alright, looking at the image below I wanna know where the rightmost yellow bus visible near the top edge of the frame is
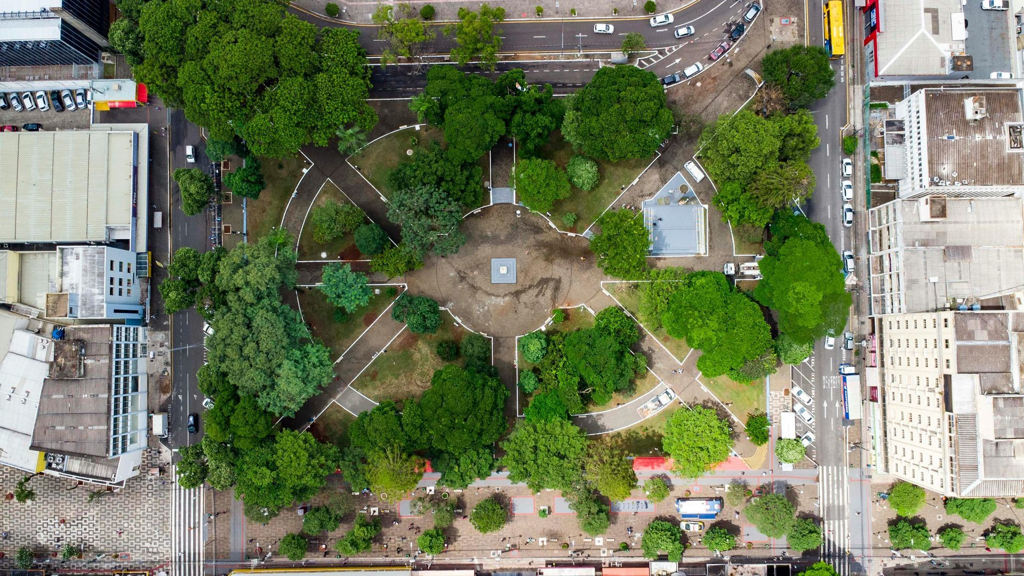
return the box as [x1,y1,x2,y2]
[825,0,845,60]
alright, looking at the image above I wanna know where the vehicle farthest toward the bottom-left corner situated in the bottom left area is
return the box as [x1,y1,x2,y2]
[149,411,166,440]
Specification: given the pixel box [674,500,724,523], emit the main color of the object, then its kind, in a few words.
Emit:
white bus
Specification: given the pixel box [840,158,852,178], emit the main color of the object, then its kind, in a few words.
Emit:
white vehicle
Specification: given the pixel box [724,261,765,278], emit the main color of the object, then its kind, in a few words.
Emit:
white vehicle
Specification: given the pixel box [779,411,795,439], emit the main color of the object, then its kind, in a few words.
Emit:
white tent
